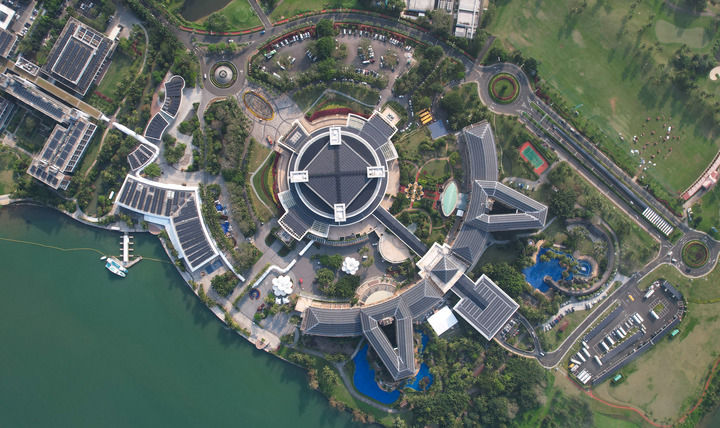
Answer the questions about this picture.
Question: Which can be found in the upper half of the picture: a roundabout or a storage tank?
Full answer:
It is a roundabout that can be seen in the upper half of the picture.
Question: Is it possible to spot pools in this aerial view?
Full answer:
Yes, there's a pool here.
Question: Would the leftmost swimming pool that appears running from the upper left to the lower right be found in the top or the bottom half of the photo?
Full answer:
The leftmost swimming pool that appears running from the upper left to the lower right sits in the bottom half of the picture.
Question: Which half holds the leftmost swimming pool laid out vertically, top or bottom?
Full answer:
You can find the leftmost swimming pool laid out vertically in the bottom half.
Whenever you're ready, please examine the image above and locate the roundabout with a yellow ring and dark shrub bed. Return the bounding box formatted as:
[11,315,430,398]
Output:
[673,231,719,277]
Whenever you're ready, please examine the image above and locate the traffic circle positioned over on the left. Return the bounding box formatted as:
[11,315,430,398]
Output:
[199,52,247,98]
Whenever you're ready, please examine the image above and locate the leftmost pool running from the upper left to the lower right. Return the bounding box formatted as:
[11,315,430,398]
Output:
[352,343,401,405]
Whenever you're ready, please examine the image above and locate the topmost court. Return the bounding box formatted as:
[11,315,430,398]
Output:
[519,141,550,176]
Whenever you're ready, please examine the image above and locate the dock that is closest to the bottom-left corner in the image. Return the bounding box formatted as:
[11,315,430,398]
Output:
[111,232,143,268]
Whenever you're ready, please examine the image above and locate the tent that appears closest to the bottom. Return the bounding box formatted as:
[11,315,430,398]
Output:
[427,304,458,335]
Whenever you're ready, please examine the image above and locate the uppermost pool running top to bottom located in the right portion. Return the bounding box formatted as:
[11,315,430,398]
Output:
[441,180,459,217]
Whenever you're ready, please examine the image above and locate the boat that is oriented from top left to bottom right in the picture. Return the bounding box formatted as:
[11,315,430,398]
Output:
[105,259,127,276]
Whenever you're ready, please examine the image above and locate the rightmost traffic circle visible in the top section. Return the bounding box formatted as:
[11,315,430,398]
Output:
[479,63,529,114]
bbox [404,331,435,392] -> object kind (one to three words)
swimming pool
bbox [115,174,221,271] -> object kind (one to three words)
building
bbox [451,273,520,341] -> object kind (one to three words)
building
